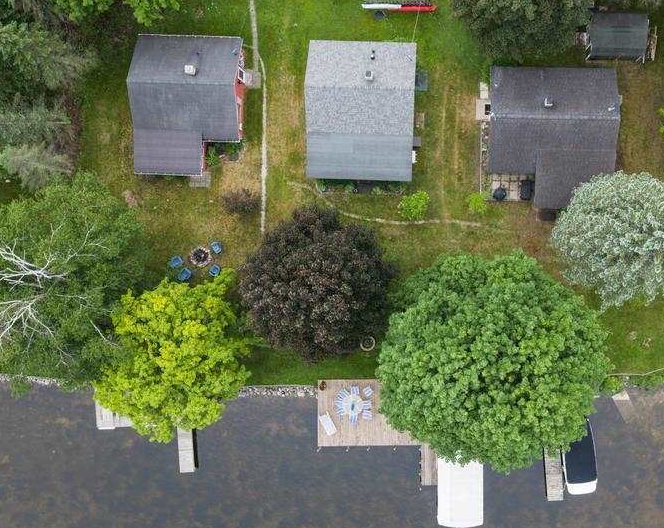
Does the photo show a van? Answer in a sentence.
No, there is no van in the image.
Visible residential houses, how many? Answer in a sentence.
My tally gives 3 residential houses in this view.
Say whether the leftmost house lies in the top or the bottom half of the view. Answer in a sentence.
You can find the leftmost house in the top half.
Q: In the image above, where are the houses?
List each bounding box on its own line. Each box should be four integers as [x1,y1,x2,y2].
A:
[304,39,418,183]
[490,64,623,211]
[128,33,248,177]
